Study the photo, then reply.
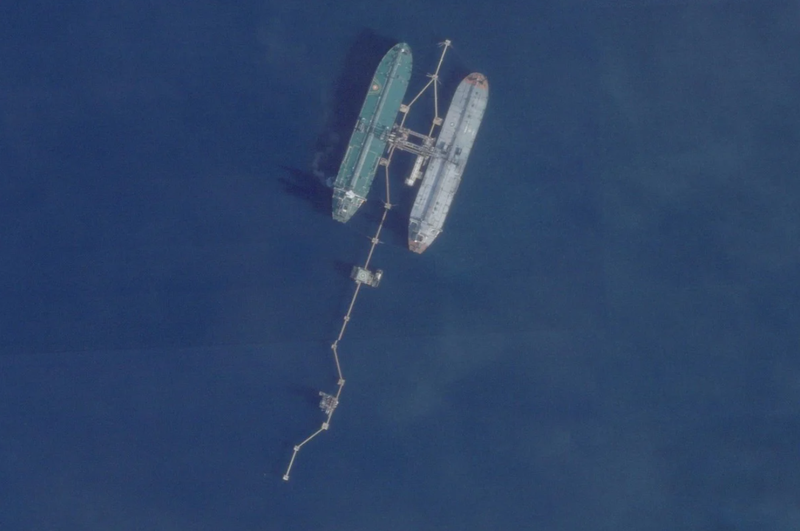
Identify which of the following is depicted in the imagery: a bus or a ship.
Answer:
ship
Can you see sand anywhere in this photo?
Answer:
No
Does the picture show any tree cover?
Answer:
No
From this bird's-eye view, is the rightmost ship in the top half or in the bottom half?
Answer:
top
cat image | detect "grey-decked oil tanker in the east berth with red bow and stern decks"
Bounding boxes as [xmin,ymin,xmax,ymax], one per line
[409,73,489,254]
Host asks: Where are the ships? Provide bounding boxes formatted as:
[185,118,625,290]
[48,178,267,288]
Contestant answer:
[334,42,412,221]
[409,73,489,254]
